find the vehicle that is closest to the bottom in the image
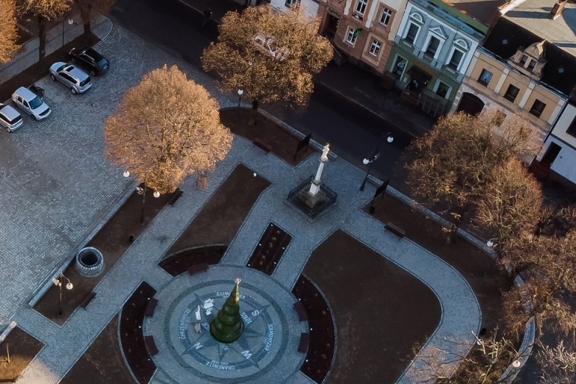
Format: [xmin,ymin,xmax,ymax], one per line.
[0,103,24,130]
